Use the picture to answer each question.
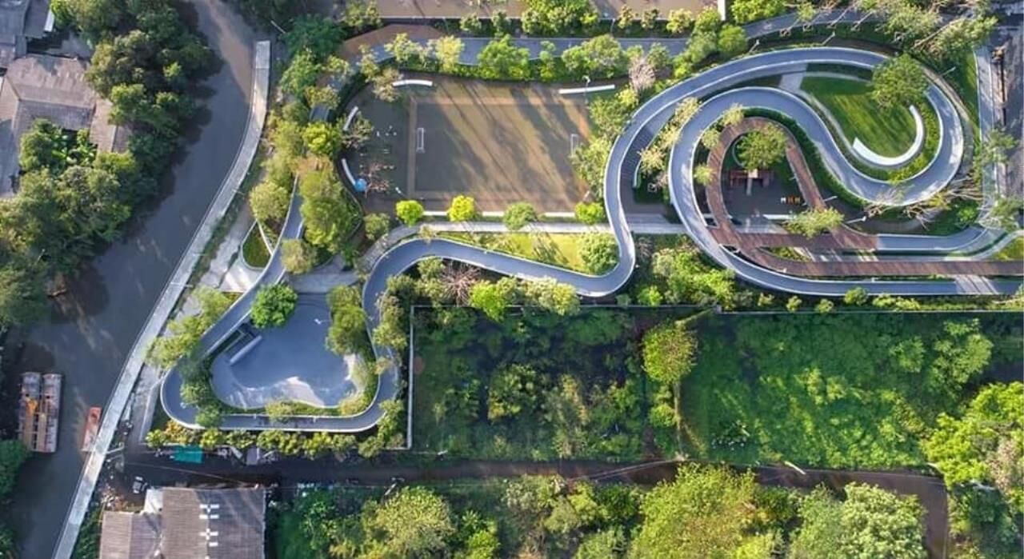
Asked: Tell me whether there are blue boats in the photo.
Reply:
No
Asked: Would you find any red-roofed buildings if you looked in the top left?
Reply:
No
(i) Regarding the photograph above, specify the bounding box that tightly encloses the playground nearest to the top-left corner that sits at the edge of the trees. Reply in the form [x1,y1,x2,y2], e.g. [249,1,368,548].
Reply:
[336,68,412,222]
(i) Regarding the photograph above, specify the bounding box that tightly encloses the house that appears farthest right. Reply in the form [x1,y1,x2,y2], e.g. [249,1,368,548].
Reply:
[161,485,269,559]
